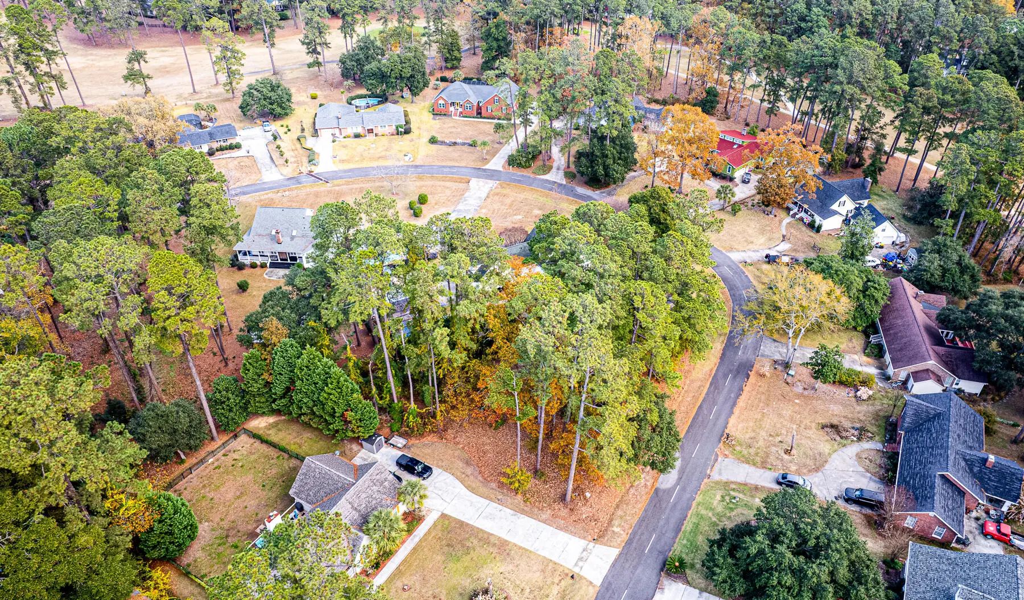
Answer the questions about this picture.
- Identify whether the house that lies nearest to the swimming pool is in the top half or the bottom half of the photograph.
top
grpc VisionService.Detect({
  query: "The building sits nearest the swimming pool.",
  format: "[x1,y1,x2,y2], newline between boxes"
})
[314,103,407,138]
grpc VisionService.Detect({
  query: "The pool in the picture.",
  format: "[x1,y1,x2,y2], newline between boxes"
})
[349,95,384,113]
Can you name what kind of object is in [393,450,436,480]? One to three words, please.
truck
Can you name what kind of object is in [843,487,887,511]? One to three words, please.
car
